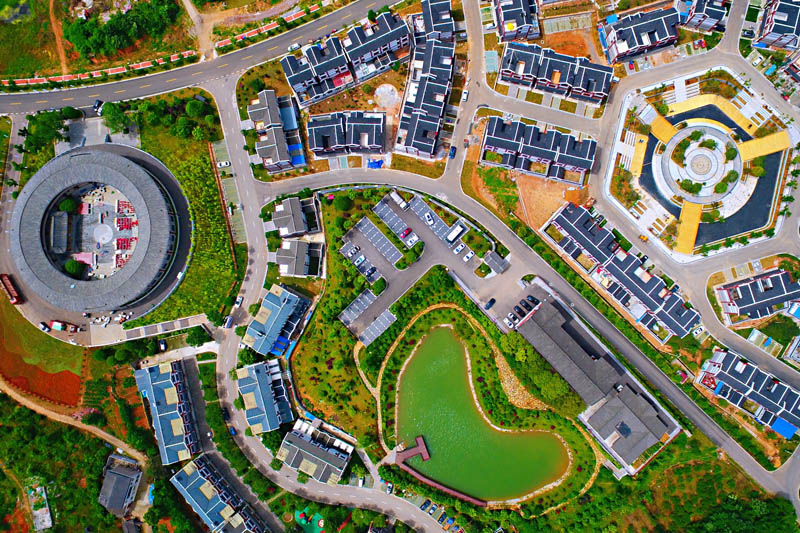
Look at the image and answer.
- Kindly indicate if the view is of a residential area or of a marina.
residential area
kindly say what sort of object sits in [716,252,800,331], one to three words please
house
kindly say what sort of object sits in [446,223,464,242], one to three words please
vehicle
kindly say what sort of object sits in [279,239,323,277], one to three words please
house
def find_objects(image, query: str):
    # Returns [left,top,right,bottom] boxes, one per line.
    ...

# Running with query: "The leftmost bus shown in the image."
[0,274,20,304]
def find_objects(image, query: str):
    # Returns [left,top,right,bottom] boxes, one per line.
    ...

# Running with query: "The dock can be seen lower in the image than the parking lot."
[384,436,487,507]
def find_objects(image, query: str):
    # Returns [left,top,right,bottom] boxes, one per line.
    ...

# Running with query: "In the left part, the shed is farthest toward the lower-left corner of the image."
[29,486,56,531]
